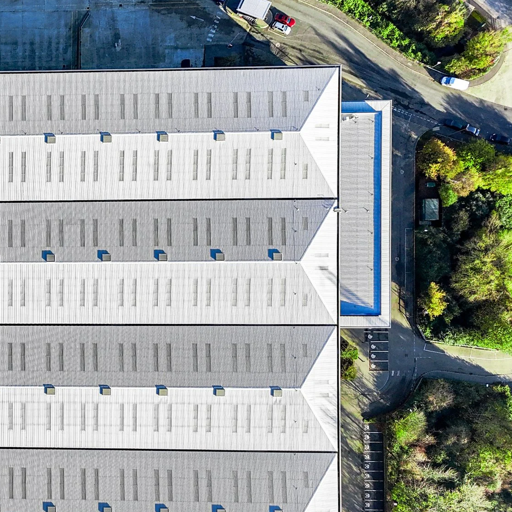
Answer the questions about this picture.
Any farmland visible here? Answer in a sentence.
No, there is no farmland in the image.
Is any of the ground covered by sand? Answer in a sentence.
No, there's no sand in this view.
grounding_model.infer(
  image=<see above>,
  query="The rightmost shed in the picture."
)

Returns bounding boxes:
[414,200,439,228]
